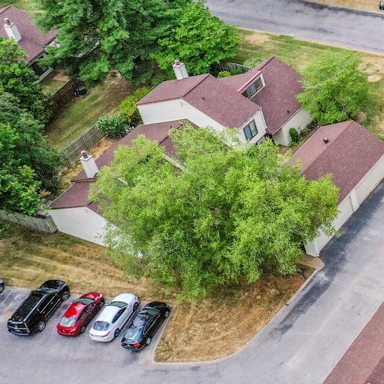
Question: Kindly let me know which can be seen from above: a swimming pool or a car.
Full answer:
There is a car in the scene.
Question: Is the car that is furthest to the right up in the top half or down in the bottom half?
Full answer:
The bottom half of the photo is where the car that is furthest to the right is.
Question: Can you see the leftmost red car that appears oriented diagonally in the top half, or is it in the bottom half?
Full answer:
The leftmost red car that appears oriented diagonally sits in the bottom half of the picture.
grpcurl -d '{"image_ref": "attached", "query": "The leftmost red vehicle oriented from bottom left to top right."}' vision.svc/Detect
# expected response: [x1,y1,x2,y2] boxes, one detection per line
[54,295,105,339]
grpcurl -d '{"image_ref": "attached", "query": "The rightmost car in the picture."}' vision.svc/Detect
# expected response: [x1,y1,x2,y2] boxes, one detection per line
[118,303,169,351]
